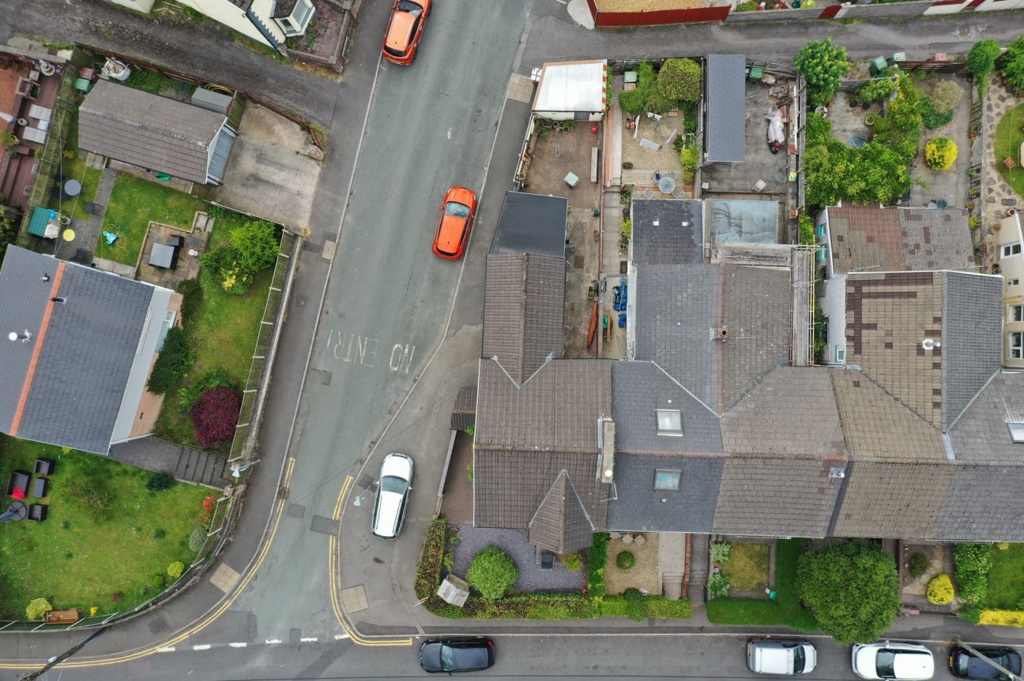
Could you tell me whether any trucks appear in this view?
No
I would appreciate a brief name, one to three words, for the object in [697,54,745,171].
shed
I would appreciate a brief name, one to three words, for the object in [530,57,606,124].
building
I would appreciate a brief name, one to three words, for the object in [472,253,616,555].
house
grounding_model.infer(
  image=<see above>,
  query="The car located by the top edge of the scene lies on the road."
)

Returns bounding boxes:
[386,0,434,66]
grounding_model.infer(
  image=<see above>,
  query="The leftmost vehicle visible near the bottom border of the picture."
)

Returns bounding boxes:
[420,634,497,676]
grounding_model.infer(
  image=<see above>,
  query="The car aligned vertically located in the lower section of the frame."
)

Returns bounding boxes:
[371,453,413,540]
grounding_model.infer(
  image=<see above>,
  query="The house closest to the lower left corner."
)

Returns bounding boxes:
[0,244,183,456]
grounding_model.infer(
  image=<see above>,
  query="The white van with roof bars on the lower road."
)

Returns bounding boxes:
[742,636,815,677]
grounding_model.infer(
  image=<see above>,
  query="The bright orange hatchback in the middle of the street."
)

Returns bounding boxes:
[431,185,477,262]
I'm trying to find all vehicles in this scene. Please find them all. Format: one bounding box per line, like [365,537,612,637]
[371,453,413,540]
[420,634,497,676]
[944,639,1019,681]
[386,0,434,66]
[431,185,477,262]
[742,636,815,677]
[847,640,934,681]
